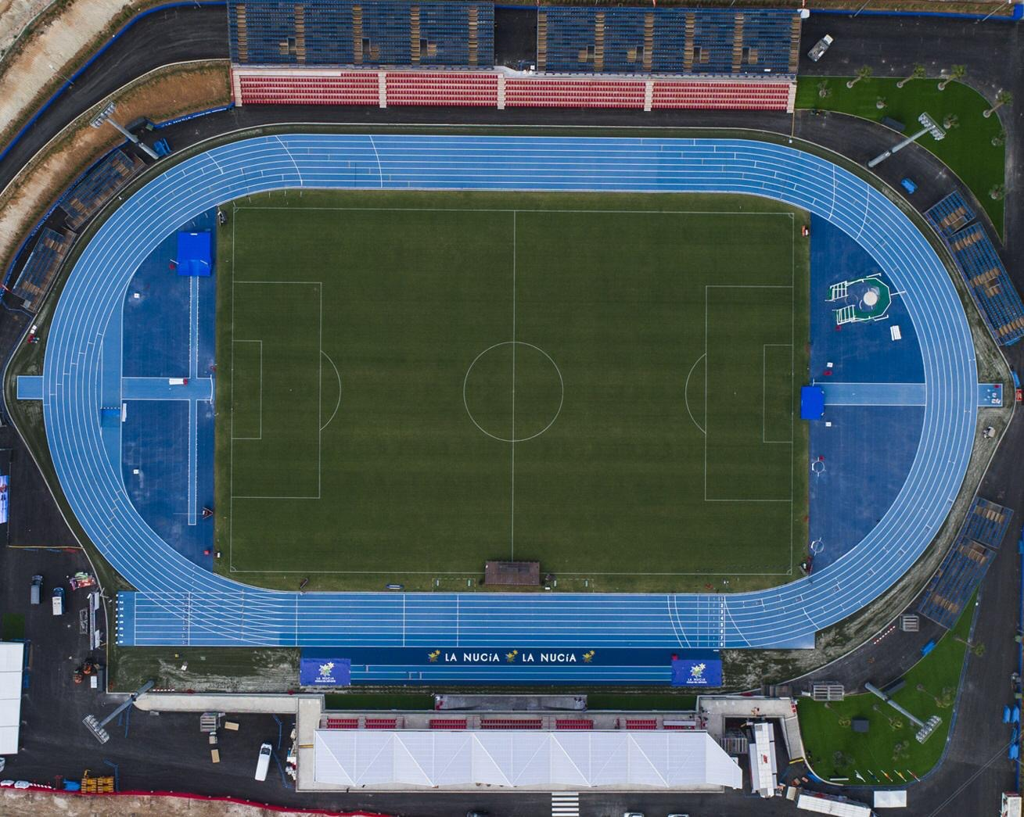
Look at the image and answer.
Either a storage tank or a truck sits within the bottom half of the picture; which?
truck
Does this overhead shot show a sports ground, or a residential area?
sports ground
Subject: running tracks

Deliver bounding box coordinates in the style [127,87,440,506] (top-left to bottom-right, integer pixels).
[17,134,1003,687]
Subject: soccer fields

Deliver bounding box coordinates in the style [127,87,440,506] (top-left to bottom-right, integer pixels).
[214,188,810,594]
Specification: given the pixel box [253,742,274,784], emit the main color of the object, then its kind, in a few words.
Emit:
white vehicle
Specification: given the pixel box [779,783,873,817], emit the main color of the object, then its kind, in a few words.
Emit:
white truck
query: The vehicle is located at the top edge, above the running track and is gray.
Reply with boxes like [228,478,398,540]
[808,34,833,62]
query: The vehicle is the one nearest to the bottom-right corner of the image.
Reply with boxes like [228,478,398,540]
[995,788,1023,817]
